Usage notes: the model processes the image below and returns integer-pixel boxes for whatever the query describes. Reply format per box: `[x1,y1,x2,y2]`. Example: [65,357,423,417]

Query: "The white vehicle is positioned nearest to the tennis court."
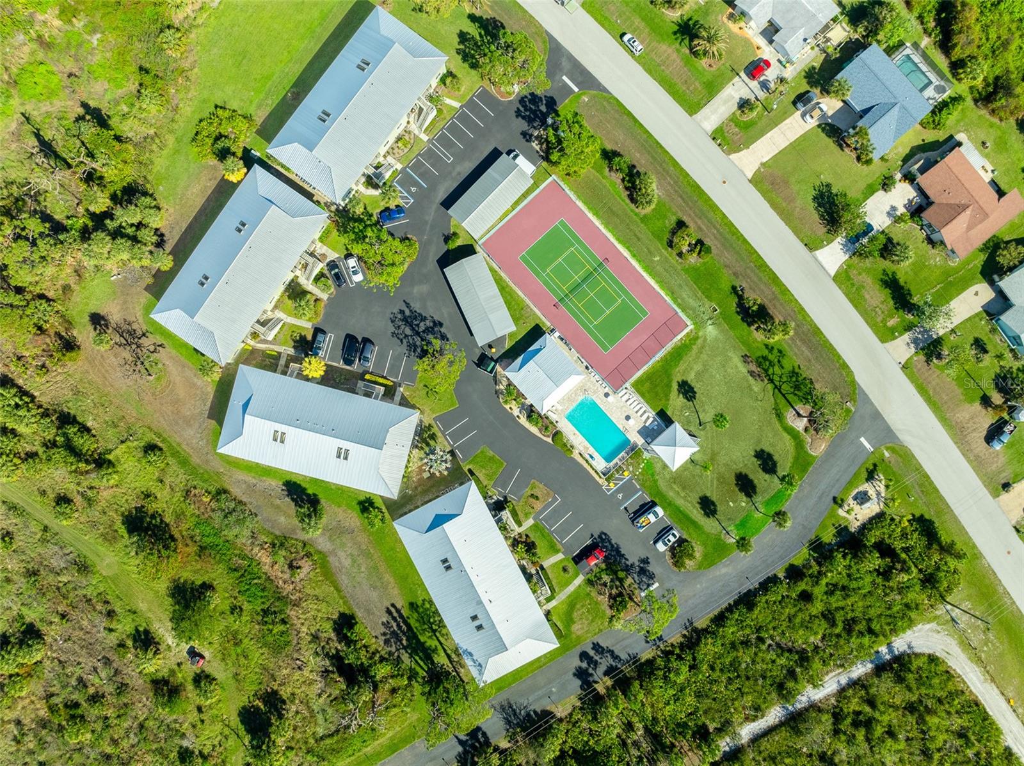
[511,151,537,175]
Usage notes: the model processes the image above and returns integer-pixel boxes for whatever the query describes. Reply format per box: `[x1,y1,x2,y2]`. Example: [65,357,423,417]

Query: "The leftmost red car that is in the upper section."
[749,60,772,81]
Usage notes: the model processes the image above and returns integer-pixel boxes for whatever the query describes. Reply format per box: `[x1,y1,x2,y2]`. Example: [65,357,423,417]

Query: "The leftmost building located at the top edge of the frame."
[266,6,447,206]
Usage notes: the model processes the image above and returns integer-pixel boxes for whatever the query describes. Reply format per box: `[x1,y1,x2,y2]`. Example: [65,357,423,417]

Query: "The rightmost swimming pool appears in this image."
[895,52,935,93]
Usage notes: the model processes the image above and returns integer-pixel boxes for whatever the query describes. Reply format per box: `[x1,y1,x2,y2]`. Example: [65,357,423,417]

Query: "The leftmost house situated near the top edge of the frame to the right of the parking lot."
[733,0,841,58]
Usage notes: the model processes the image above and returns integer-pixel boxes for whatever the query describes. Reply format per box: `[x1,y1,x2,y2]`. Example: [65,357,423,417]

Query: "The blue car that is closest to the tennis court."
[380,207,406,222]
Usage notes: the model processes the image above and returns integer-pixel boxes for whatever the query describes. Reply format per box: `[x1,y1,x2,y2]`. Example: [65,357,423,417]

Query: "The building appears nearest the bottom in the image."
[393,480,560,687]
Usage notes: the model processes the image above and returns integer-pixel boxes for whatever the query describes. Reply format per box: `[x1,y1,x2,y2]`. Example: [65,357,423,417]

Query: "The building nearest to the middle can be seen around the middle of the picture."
[505,333,586,414]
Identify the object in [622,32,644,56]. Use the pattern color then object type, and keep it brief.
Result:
white car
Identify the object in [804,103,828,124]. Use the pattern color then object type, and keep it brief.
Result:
white car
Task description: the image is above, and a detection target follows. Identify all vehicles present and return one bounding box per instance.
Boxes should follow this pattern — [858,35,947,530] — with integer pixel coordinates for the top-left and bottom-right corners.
[622,32,644,56]
[312,331,327,356]
[795,92,817,111]
[804,103,828,124]
[990,419,1020,449]
[635,506,665,533]
[346,256,364,283]
[361,341,375,367]
[511,151,537,175]
[380,207,406,222]
[576,547,607,573]
[749,60,772,81]
[343,336,358,366]
[656,529,679,552]
[186,650,204,666]
[328,262,347,288]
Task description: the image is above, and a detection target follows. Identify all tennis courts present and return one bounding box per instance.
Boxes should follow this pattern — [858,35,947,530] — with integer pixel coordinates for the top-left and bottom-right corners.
[482,179,690,390]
